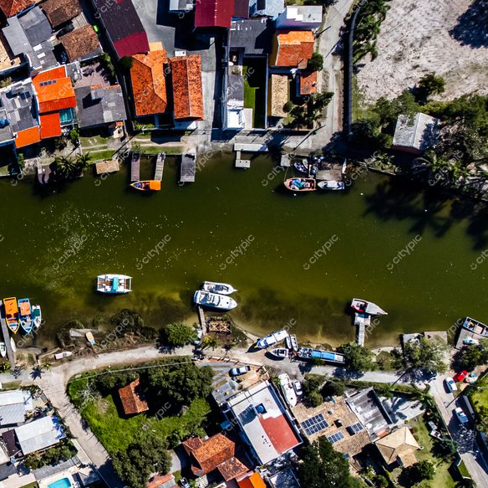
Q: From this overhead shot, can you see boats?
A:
Yes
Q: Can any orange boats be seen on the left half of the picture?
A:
Yes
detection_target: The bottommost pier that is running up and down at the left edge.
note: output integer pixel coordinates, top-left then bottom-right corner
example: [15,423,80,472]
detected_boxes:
[0,300,16,368]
